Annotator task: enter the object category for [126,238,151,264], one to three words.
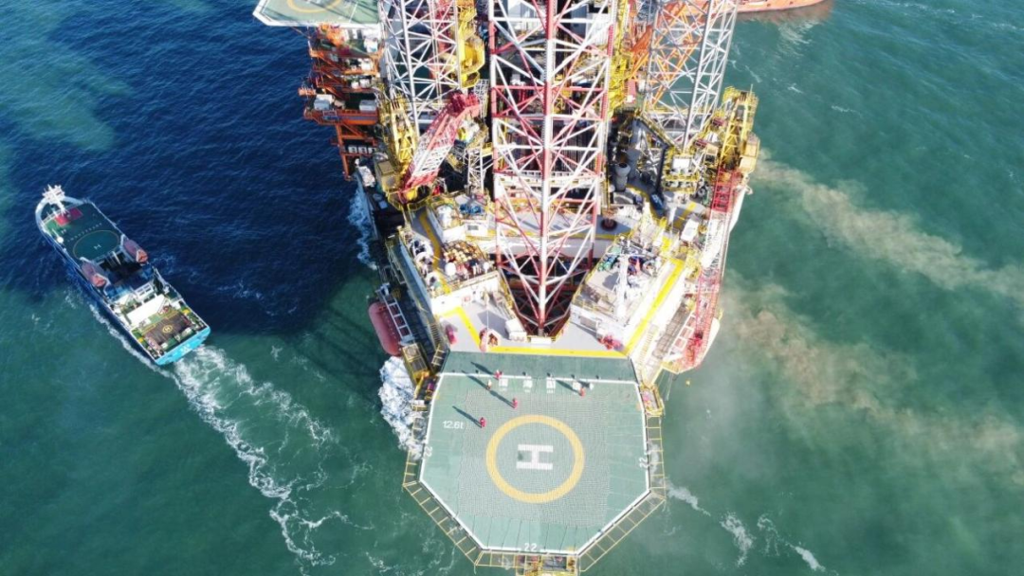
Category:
boat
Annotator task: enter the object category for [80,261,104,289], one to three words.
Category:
boat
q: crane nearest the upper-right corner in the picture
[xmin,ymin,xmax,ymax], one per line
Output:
[670,78,770,376]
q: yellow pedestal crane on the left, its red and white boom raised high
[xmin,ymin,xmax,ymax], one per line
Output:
[371,86,489,235]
